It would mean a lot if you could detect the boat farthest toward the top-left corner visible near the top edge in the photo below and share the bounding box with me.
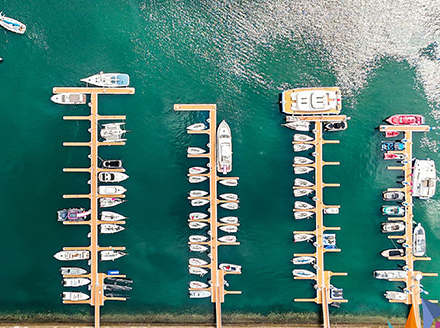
[0,12,27,35]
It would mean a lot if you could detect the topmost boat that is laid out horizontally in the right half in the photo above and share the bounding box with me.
[278,87,342,116]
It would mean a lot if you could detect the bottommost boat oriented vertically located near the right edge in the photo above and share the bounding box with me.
[413,225,426,256]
